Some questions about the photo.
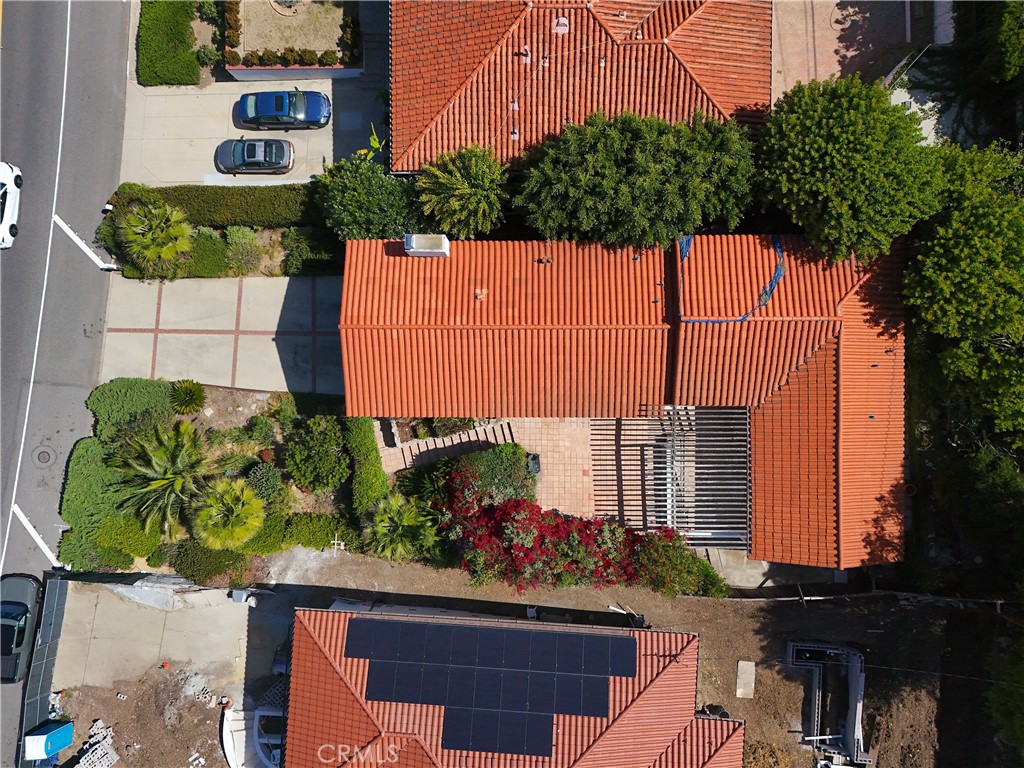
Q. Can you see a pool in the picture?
No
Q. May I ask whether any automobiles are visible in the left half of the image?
Yes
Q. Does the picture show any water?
No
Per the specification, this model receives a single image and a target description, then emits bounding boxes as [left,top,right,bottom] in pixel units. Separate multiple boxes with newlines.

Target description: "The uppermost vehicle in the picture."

[238,87,333,134]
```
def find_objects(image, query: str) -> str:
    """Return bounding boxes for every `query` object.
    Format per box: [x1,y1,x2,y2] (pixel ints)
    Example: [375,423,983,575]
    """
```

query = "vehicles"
[238,87,333,134]
[0,567,52,684]
[216,133,296,178]
[0,161,24,249]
